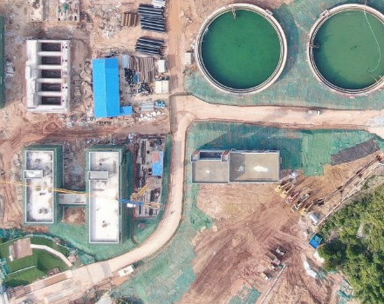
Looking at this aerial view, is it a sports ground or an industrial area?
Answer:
industrial area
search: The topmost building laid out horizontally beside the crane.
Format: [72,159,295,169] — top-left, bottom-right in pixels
[191,148,280,183]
